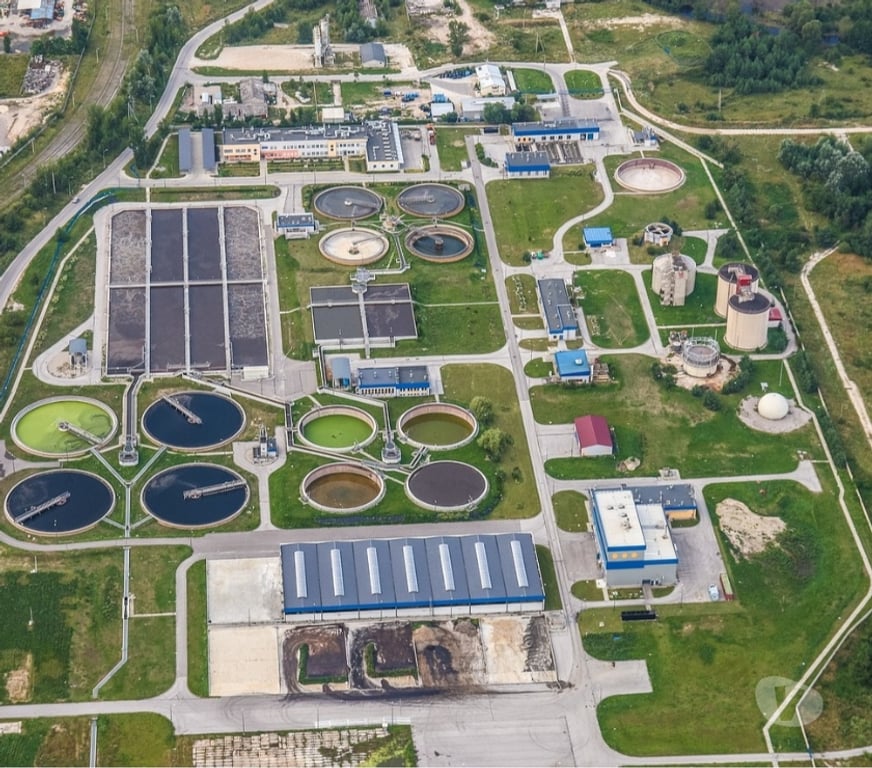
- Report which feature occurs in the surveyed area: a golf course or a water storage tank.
water storage tank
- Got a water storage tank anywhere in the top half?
Yes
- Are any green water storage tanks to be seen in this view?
Yes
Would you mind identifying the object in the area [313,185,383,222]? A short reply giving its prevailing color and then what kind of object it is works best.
gray water tank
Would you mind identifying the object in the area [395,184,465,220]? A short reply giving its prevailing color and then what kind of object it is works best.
gray water tank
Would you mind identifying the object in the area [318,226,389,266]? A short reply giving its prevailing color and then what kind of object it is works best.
white water tank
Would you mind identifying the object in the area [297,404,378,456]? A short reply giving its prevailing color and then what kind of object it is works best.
green water tank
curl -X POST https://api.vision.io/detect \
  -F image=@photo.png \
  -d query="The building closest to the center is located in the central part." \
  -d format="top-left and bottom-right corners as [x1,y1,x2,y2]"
[357,365,432,398]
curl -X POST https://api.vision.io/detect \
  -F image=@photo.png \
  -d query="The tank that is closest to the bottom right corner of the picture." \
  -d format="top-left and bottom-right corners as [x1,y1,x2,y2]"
[754,392,791,426]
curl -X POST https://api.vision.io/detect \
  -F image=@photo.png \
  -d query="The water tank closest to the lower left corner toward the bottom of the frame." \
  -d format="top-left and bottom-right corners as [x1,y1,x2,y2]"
[3,468,116,536]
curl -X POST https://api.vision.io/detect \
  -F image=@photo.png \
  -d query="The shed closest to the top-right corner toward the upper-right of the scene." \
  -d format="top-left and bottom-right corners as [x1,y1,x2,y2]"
[625,127,668,151]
